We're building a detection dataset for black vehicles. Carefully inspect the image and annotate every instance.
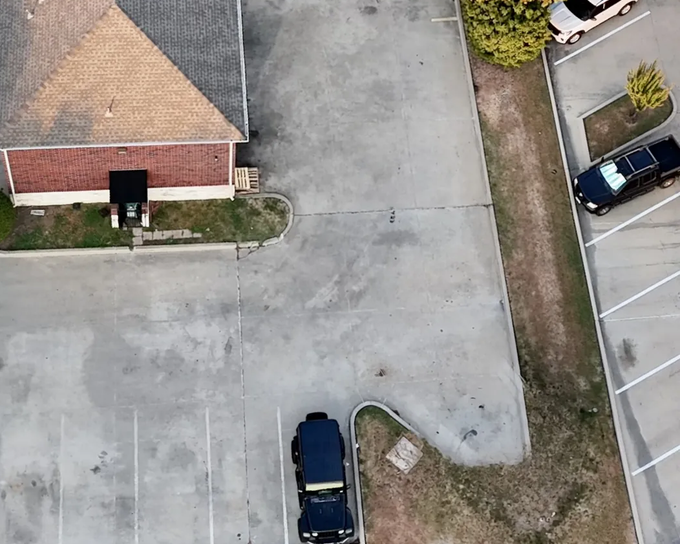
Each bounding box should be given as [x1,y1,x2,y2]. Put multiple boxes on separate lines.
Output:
[291,409,352,542]
[567,131,680,216]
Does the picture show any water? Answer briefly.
No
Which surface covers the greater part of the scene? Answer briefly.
paved ground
